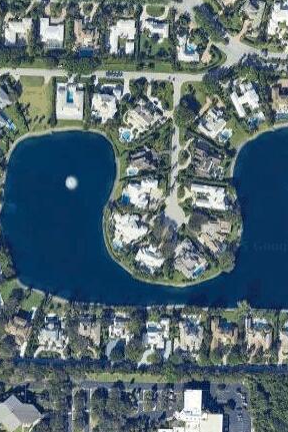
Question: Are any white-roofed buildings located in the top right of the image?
Yes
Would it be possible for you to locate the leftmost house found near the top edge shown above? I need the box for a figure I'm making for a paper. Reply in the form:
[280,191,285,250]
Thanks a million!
[5,18,31,46]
